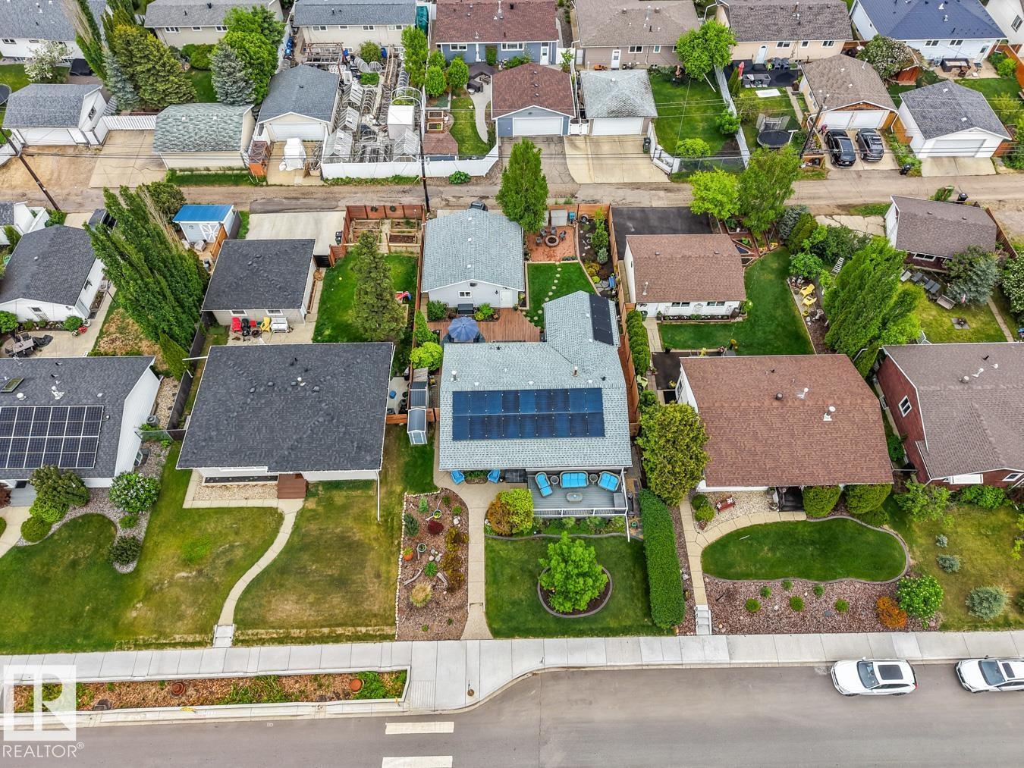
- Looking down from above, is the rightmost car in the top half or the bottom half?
bottom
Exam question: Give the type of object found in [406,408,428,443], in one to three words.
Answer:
greenhouse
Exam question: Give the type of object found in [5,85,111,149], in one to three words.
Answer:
building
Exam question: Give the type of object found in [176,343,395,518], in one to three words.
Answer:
house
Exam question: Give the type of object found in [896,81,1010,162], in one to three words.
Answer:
building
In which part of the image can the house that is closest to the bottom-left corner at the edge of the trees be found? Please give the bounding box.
[0,354,168,509]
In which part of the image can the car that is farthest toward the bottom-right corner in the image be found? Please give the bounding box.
[950,653,1024,696]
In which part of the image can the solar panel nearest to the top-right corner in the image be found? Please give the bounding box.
[592,296,612,345]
